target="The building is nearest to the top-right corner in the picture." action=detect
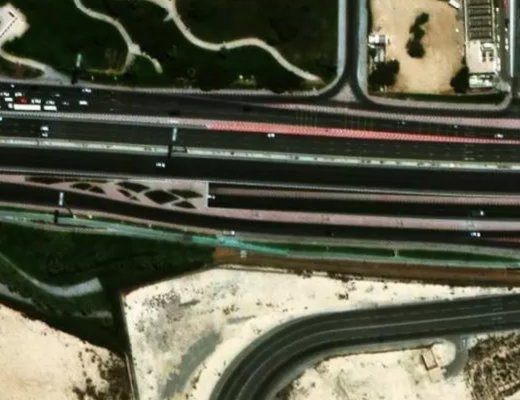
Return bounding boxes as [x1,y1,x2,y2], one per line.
[464,0,498,91]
